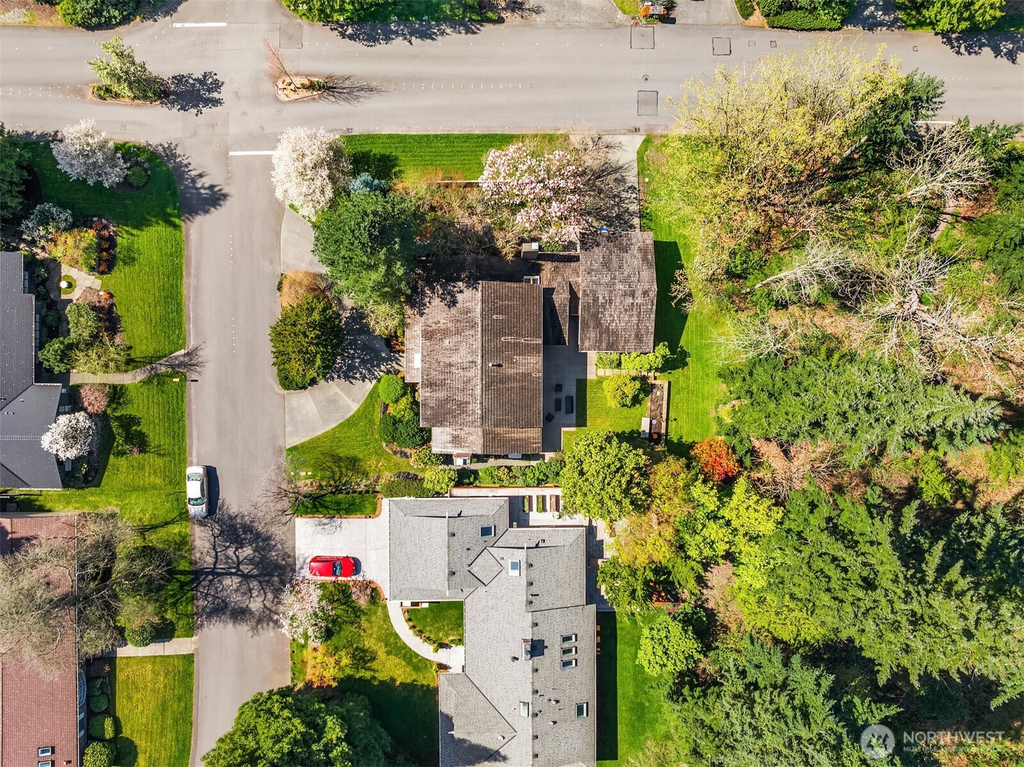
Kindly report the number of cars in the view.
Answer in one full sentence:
The number of cars here is 2.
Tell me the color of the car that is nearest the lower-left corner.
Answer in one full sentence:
The car that is nearest the lower-left corner looks white in the image.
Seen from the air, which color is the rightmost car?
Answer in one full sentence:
The color of the rightmost car is red.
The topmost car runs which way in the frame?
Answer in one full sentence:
In this picture, the topmost car is oriented up and down.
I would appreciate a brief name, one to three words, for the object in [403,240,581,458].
house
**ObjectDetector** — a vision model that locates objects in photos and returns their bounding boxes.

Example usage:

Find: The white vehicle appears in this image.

[186,466,213,517]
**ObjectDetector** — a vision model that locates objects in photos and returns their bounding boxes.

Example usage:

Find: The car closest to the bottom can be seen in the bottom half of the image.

[309,555,356,580]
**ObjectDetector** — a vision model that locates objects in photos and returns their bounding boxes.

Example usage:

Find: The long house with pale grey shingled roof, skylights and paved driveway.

[388,496,597,767]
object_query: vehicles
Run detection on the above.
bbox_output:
[309,555,356,580]
[186,466,213,517]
